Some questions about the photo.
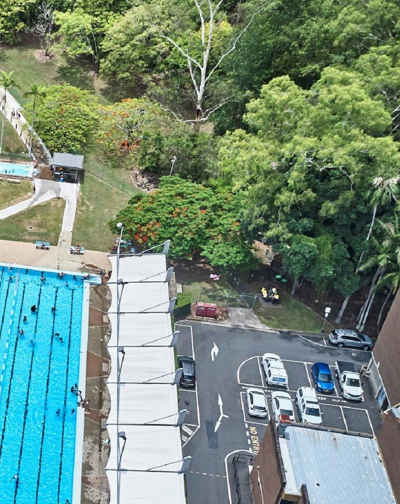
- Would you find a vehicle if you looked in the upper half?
No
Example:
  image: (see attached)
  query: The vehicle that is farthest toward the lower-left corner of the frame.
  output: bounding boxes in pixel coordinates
[179,354,200,387]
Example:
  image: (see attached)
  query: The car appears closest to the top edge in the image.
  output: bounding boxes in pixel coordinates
[330,327,374,354]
